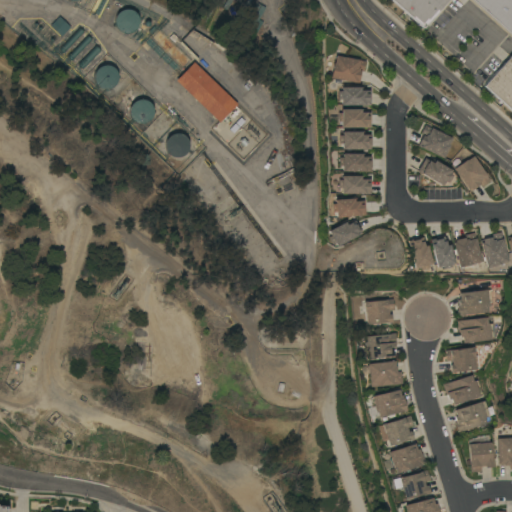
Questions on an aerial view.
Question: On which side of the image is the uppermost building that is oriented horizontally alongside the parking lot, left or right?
right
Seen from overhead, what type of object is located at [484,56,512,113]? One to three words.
building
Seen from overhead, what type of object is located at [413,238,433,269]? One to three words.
house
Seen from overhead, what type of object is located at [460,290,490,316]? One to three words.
house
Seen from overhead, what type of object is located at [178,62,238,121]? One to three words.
building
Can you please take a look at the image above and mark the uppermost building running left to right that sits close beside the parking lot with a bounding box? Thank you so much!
[392,0,453,28]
